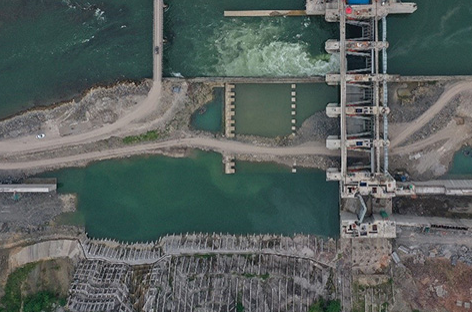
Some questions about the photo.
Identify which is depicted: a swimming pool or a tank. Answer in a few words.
swimming pool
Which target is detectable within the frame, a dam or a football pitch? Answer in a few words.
dam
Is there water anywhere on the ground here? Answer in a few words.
Yes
